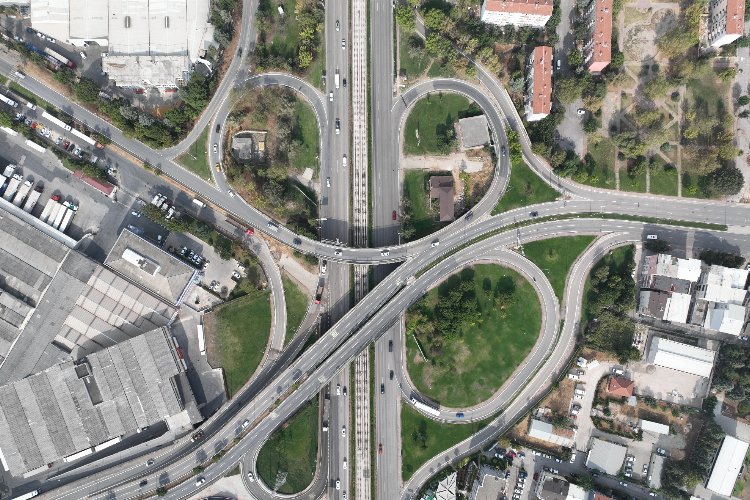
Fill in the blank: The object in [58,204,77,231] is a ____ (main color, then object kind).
white vehicle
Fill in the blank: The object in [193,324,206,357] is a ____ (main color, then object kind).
white vehicle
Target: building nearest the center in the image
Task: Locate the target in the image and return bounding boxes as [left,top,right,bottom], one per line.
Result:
[429,176,454,222]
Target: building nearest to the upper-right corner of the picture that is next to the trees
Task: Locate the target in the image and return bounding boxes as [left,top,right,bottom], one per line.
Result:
[707,0,746,46]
